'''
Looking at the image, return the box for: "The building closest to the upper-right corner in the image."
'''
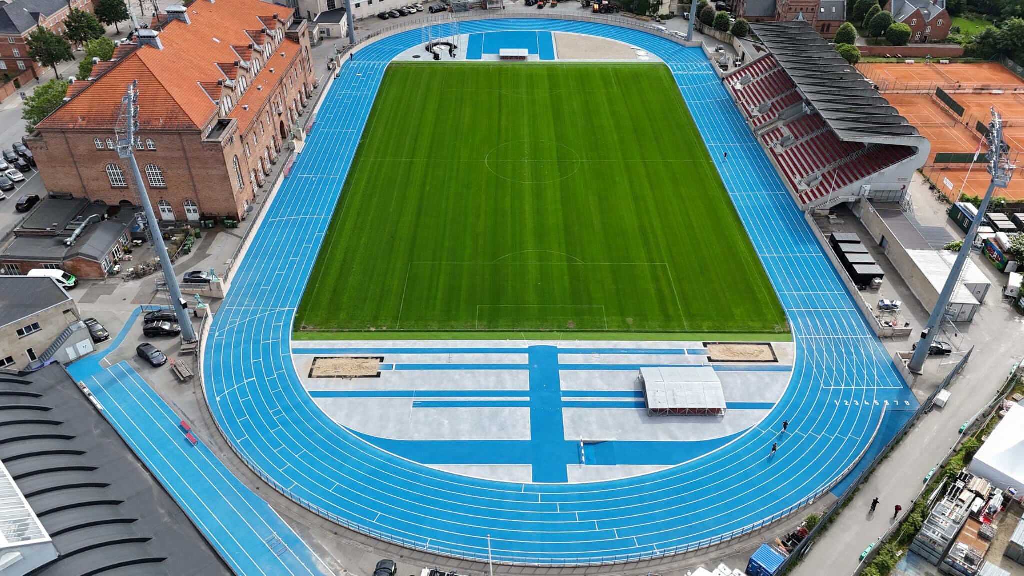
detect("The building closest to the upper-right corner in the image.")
[891,0,963,42]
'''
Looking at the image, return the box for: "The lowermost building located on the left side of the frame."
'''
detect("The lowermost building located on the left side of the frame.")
[0,359,237,576]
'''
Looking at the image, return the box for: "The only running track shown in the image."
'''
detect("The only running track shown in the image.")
[204,19,918,563]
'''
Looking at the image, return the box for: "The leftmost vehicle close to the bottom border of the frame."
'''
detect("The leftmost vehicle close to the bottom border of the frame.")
[373,555,396,576]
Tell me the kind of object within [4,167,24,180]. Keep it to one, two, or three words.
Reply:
vehicle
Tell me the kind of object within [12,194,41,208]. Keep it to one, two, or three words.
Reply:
car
